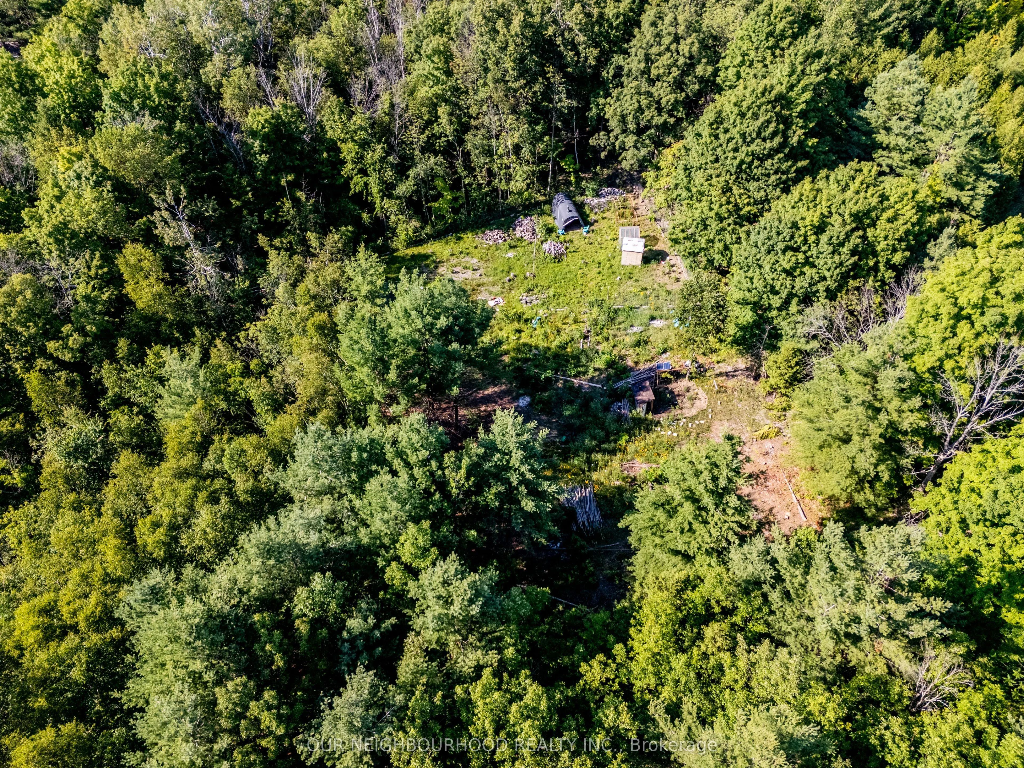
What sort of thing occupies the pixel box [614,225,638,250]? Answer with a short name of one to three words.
greenhouse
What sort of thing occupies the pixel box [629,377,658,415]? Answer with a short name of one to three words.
shed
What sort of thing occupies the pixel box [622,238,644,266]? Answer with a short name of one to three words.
shed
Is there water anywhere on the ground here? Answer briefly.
No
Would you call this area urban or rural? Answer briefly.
rural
